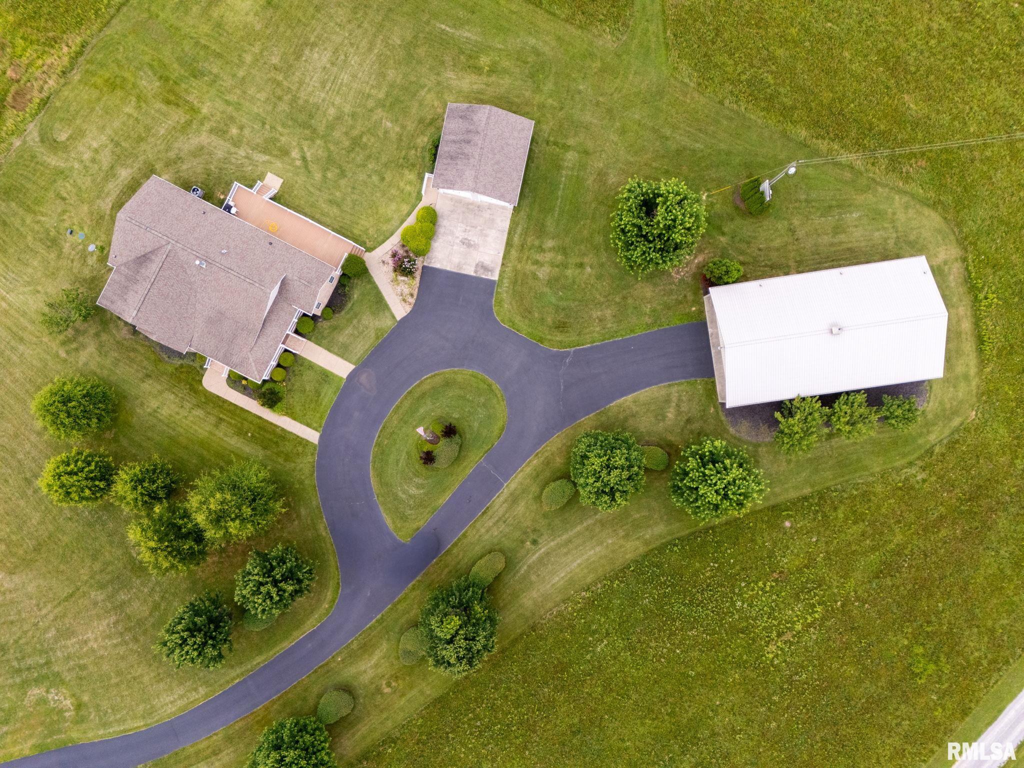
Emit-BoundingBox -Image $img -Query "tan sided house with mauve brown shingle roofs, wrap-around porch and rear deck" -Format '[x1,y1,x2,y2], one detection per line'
[98,174,339,383]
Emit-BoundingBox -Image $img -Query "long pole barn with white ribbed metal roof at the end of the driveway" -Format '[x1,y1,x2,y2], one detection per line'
[703,254,950,410]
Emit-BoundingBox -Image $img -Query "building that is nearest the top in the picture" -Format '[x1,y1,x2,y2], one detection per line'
[431,103,535,207]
